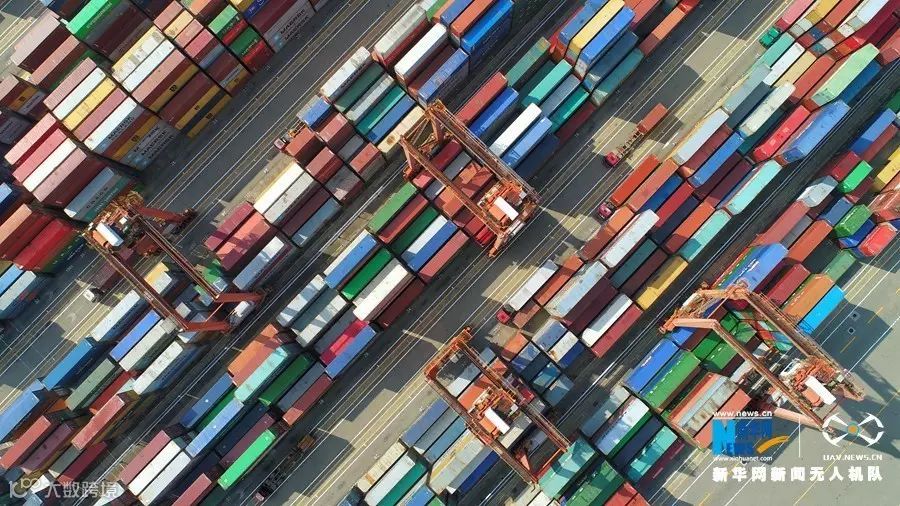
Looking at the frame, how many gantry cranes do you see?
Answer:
4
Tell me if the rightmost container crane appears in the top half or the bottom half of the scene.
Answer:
bottom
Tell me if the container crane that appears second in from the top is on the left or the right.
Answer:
left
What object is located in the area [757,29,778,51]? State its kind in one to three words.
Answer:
truck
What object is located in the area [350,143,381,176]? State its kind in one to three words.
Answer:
shipping container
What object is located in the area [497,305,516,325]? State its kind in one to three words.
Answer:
vehicle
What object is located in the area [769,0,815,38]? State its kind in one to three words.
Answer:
shipping container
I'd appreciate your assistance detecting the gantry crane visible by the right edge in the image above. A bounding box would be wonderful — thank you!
[658,278,877,438]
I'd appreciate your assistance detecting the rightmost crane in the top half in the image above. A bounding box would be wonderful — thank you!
[395,98,551,257]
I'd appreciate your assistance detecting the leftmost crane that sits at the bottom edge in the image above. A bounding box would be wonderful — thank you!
[418,322,577,492]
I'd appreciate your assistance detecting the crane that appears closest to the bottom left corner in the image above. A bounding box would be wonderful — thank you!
[84,191,273,339]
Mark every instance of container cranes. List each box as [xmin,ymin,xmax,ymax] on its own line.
[84,191,273,339]
[418,322,577,492]
[395,98,551,257]
[658,278,877,438]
